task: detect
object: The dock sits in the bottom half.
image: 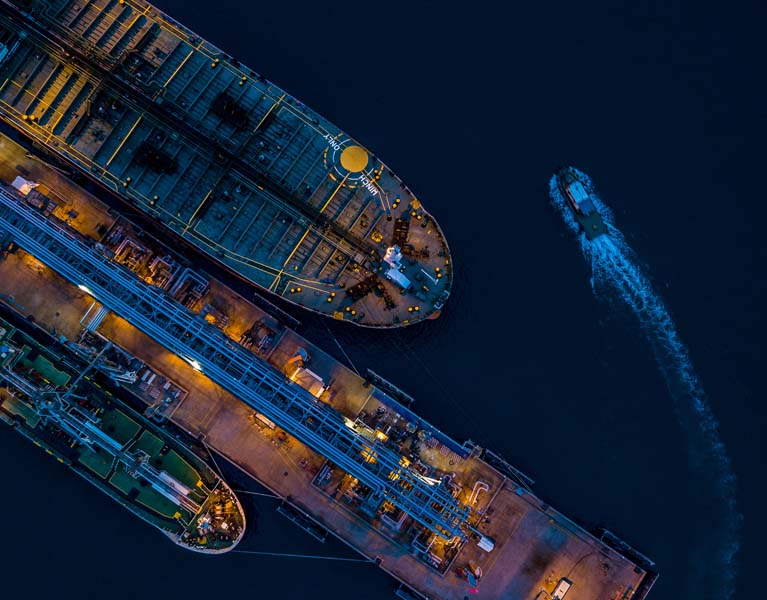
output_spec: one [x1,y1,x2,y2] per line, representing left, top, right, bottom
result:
[0,130,657,600]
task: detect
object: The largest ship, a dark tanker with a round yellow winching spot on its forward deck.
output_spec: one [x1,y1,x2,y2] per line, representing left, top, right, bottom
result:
[0,0,451,333]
